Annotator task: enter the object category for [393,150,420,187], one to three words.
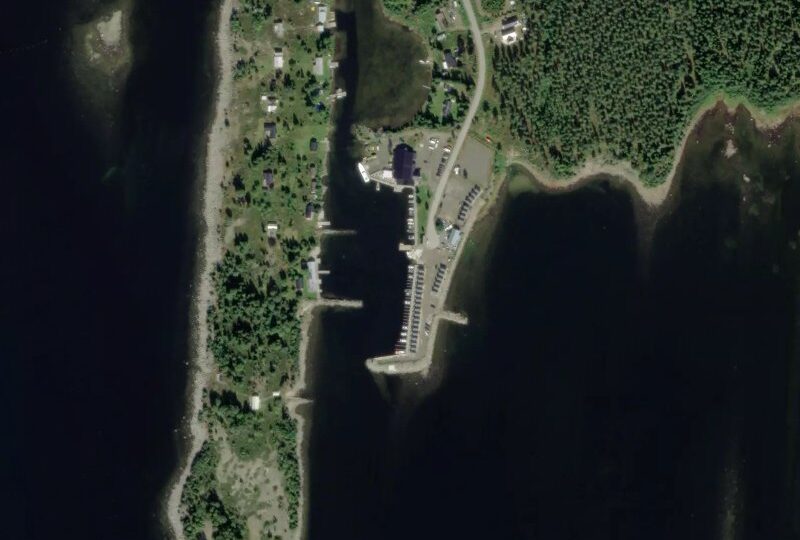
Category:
building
